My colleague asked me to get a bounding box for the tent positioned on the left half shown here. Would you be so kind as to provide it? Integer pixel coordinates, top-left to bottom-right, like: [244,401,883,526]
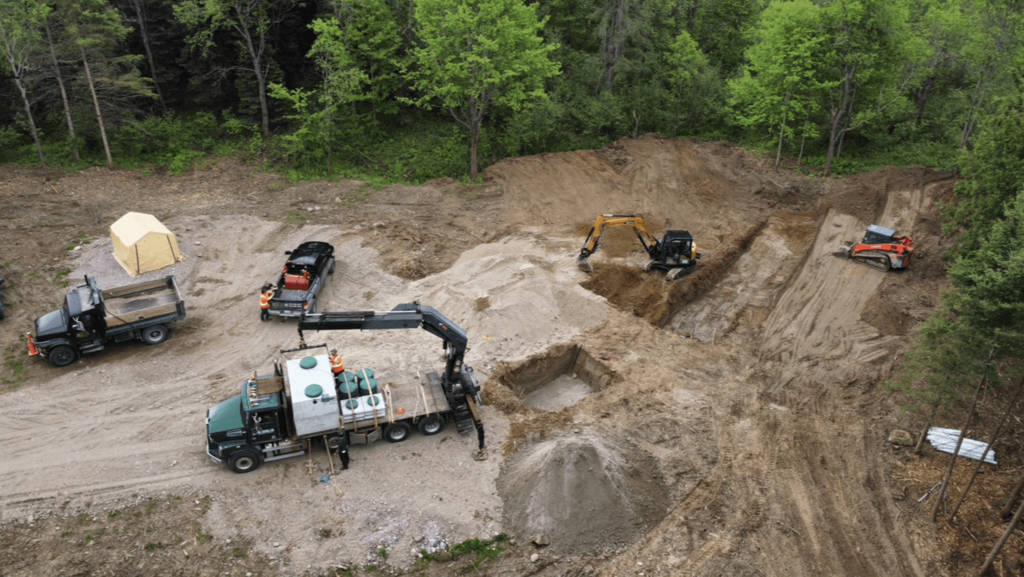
[109,210,188,278]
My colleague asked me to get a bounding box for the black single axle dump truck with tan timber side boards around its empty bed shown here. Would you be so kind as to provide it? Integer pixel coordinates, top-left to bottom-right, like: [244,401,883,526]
[36,273,187,369]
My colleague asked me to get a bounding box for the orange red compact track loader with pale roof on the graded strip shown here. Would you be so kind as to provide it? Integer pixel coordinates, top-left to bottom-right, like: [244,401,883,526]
[832,218,921,272]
